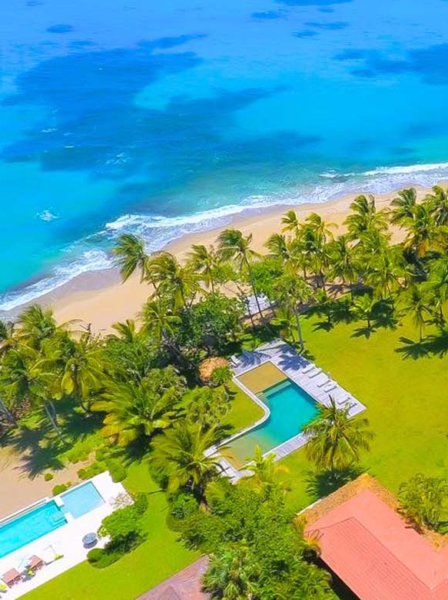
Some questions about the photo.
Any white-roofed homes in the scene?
No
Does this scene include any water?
Yes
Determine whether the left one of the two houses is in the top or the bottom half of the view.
bottom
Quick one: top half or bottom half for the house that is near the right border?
bottom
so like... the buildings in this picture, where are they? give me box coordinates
[140,555,247,600]
[289,484,448,600]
